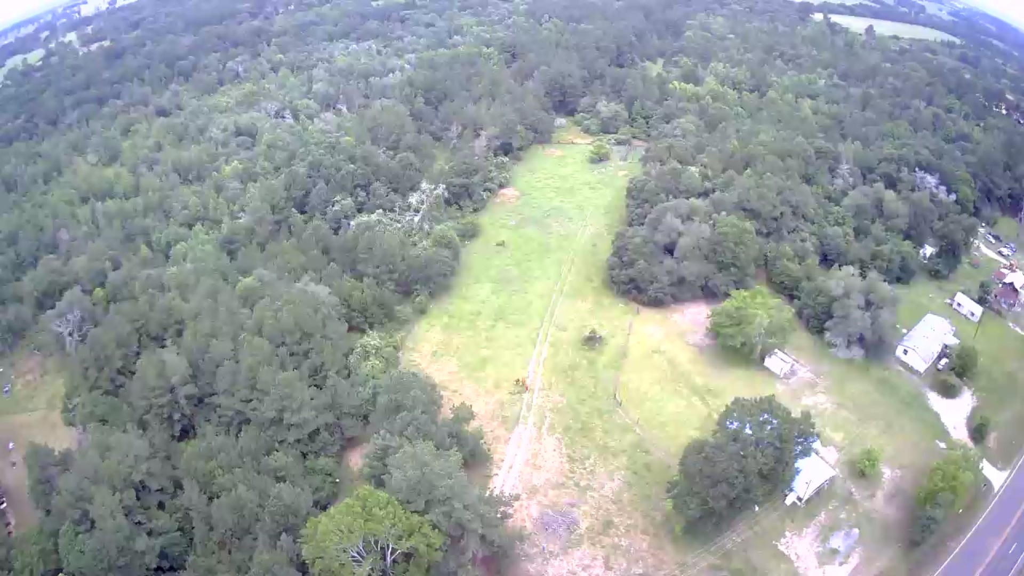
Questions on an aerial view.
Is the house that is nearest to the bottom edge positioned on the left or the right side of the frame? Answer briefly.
right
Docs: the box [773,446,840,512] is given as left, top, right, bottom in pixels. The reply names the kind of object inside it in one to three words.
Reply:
house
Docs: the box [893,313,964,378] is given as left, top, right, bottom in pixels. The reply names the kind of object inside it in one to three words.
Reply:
house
